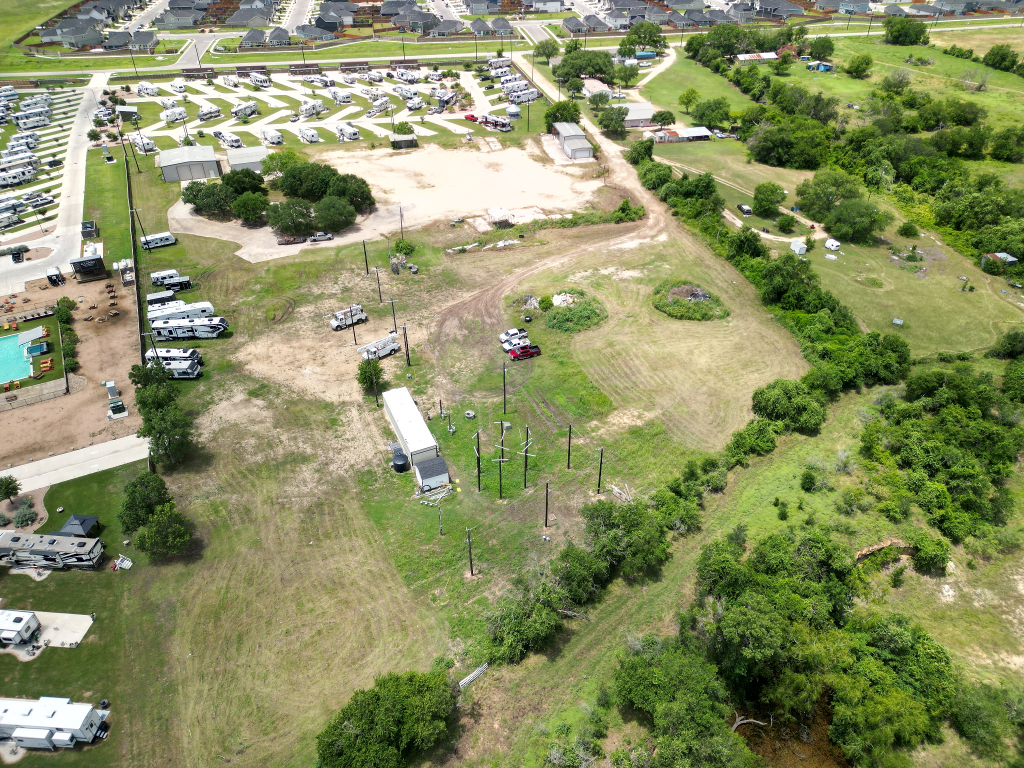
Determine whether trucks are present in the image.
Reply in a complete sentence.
Yes, there's a truck down there.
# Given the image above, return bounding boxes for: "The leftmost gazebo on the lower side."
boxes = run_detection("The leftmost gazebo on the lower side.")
[60,516,105,535]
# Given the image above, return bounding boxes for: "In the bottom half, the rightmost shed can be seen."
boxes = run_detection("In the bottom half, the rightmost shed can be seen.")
[418,452,455,489]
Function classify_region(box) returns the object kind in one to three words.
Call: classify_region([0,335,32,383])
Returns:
swimming pool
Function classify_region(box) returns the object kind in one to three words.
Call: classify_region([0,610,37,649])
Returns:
trailer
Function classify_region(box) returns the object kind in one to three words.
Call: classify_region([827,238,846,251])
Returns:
vehicle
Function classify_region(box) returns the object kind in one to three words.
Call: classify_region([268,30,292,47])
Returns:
house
